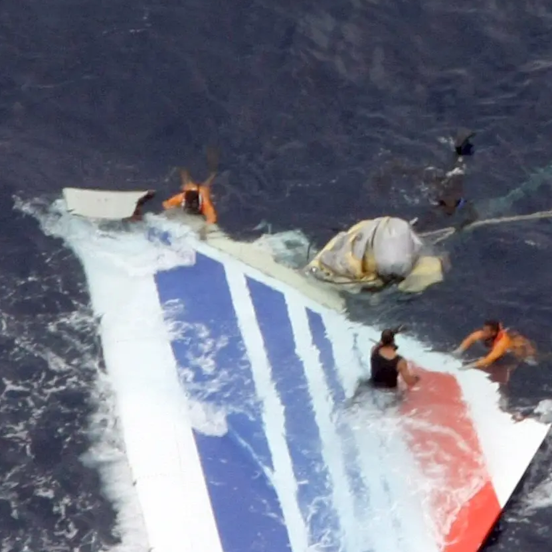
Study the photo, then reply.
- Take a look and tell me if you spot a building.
No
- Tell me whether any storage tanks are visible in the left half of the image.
No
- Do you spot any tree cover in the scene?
No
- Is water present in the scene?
Yes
